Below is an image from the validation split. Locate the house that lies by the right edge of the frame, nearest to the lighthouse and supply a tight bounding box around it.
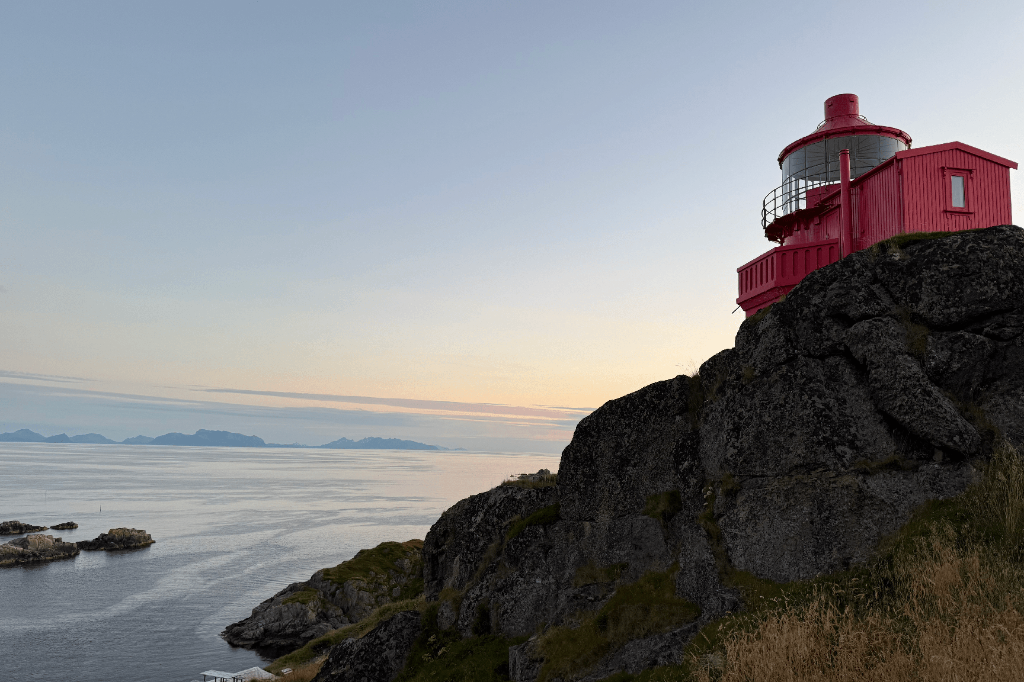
[809,139,1018,257]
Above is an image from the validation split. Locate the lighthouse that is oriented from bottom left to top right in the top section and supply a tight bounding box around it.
[726,93,916,320]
